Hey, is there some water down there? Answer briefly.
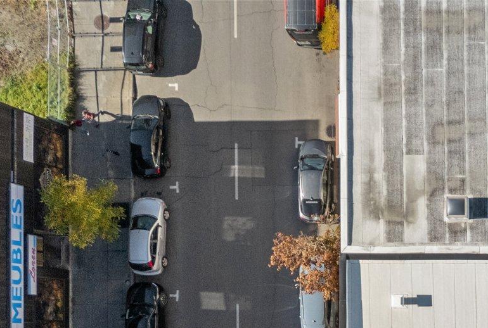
No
